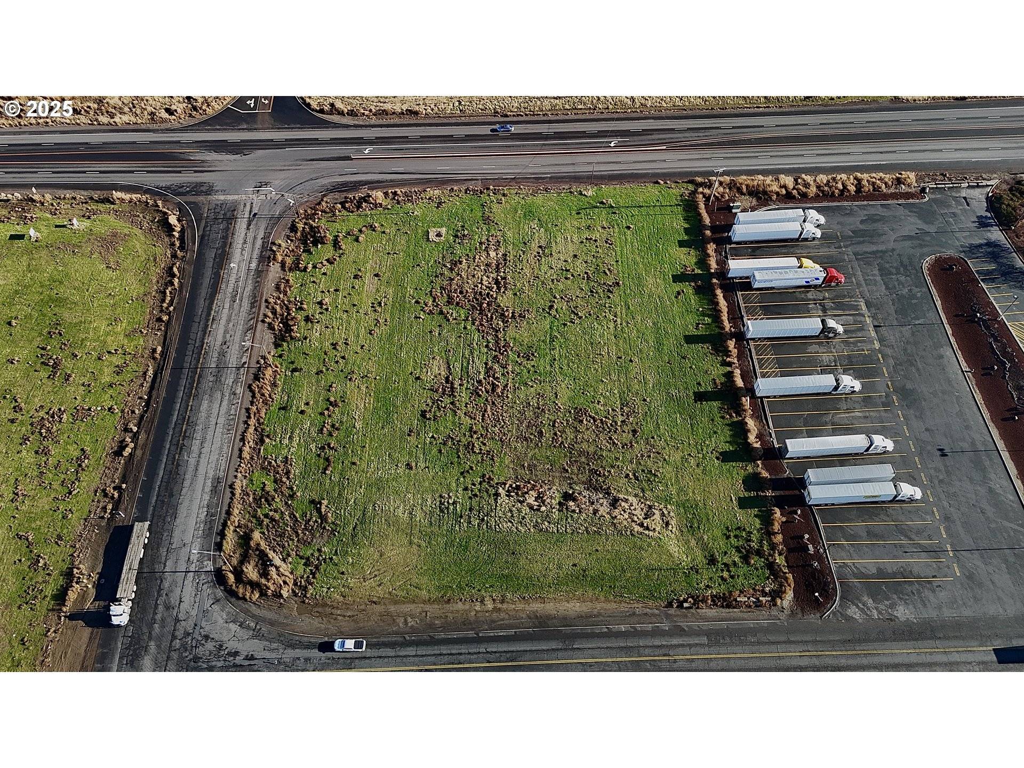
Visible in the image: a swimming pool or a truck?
truck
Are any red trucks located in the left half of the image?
No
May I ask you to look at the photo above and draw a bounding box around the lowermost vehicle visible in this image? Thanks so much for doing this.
[332,639,366,654]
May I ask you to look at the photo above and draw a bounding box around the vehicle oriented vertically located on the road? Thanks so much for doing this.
[109,521,151,629]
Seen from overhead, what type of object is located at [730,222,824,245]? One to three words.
truck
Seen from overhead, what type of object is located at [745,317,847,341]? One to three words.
truck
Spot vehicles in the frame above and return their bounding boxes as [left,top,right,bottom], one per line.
[745,317,847,341]
[802,482,921,506]
[754,375,862,399]
[496,124,513,132]
[109,521,151,629]
[725,257,821,280]
[750,269,848,292]
[734,211,826,229]
[780,437,895,461]
[730,222,824,245]
[332,639,366,654]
